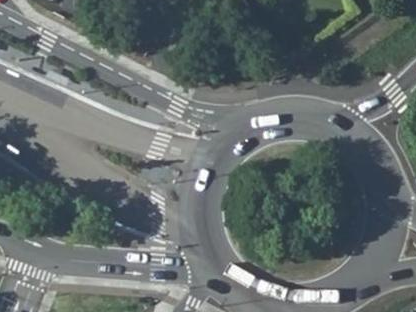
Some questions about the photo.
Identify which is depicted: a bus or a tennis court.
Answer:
bus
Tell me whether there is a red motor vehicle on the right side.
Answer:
No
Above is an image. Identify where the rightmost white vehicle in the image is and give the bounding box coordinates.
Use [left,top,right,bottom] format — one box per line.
[356,95,380,110]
